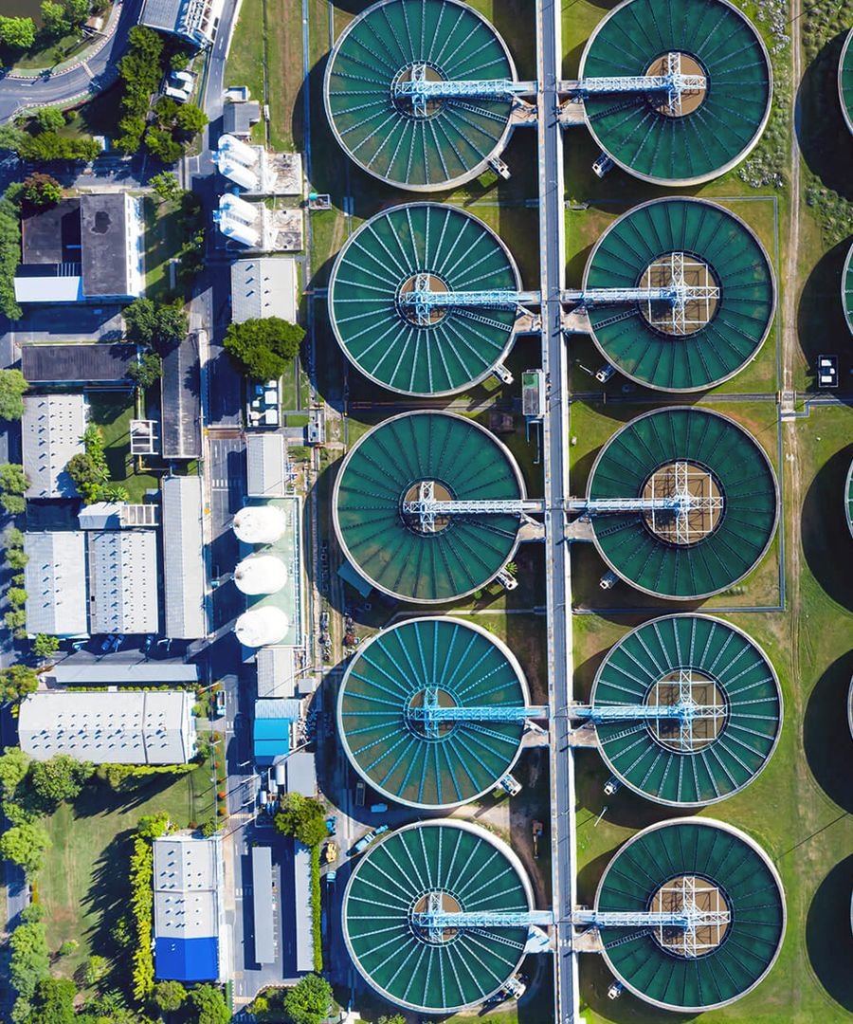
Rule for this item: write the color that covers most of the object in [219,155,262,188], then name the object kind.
white silo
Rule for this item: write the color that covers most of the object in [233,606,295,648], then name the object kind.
white silo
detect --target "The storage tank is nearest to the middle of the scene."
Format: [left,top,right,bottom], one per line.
[332,410,544,603]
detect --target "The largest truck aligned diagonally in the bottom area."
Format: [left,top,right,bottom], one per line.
[352,821,388,854]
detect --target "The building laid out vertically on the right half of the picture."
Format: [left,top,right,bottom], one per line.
[522,369,546,458]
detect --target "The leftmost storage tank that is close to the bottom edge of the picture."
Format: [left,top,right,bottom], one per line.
[341,814,551,1013]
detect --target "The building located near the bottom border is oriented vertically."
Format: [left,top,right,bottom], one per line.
[154,834,227,982]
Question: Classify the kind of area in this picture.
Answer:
industrial area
